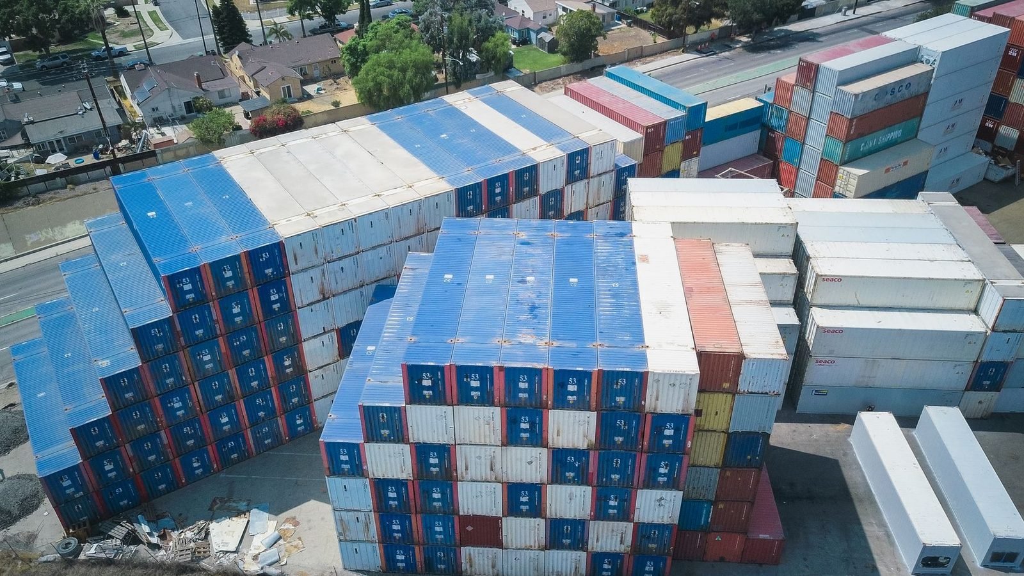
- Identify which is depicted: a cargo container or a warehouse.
cargo container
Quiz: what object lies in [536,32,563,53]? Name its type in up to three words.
shed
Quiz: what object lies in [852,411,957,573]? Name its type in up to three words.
shipping container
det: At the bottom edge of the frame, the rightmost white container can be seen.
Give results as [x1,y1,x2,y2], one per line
[915,406,1024,567]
